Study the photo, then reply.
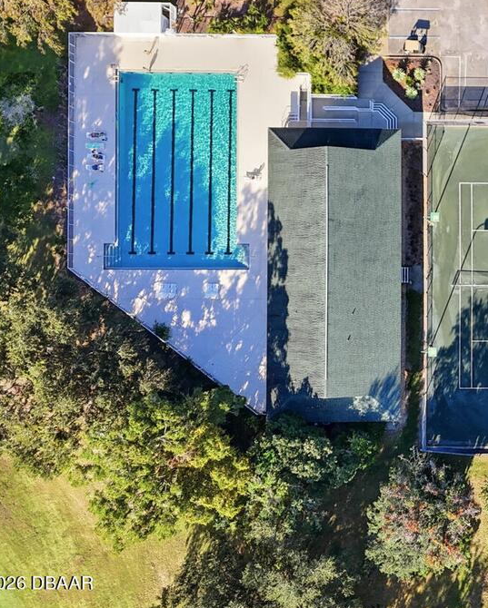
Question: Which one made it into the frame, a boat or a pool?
pool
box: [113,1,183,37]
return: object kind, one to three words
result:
shed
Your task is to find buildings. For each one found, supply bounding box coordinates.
[270,128,402,423]
[113,1,183,37]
